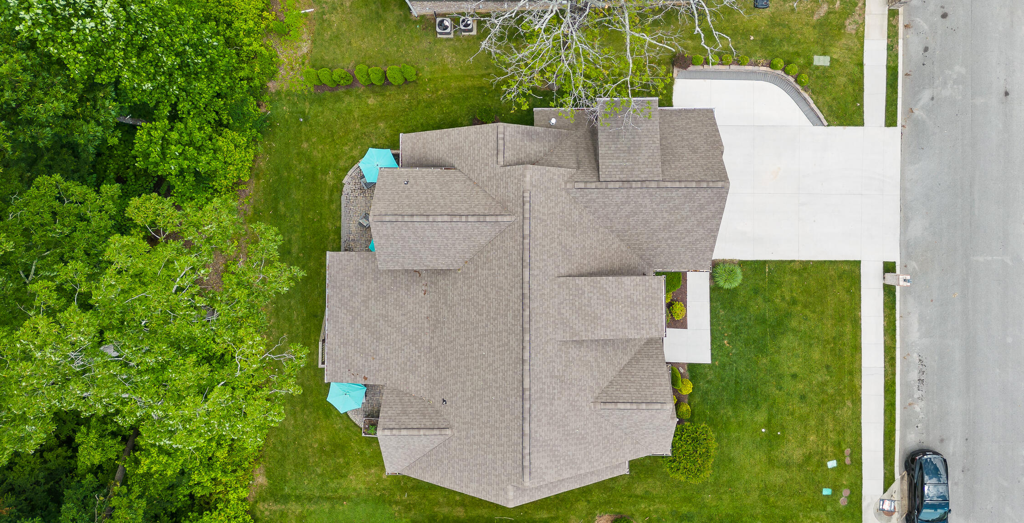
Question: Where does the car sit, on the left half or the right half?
right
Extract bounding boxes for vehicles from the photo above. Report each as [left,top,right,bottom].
[904,449,953,523]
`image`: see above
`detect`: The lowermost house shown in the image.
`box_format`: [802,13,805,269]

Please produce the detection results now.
[318,96,730,506]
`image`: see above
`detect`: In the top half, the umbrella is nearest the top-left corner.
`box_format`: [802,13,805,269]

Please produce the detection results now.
[358,147,399,183]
